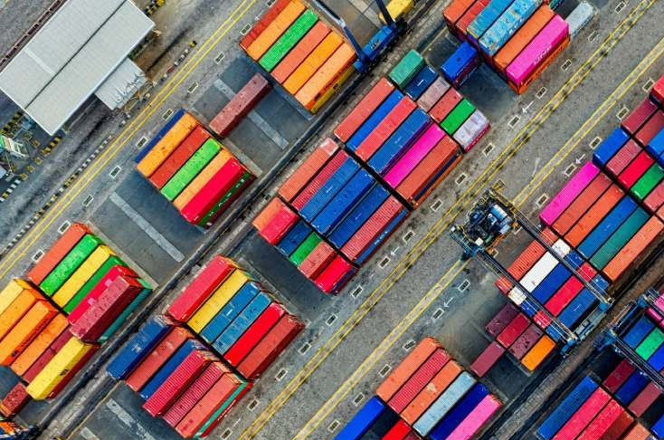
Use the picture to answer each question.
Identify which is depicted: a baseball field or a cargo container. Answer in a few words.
cargo container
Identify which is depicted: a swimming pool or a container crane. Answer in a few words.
container crane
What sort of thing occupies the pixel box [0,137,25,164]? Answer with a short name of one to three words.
truck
